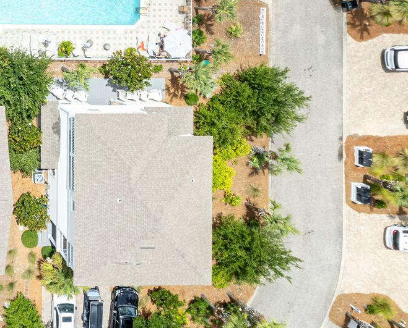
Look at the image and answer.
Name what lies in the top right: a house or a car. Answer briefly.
car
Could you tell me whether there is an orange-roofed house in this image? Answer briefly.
No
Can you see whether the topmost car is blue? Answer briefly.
No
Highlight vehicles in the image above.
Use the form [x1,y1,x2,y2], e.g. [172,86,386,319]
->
[381,46,408,68]
[385,223,408,248]
[81,292,103,328]
[107,286,138,328]
[50,286,79,328]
